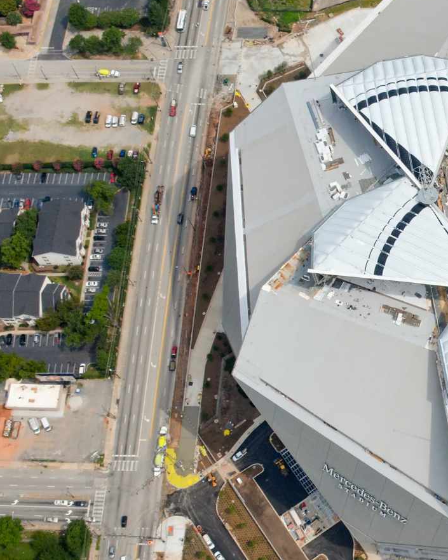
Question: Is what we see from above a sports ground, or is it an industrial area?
sports ground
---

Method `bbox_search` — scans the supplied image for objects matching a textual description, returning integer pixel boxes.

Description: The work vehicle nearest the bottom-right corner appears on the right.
[274,452,287,471]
